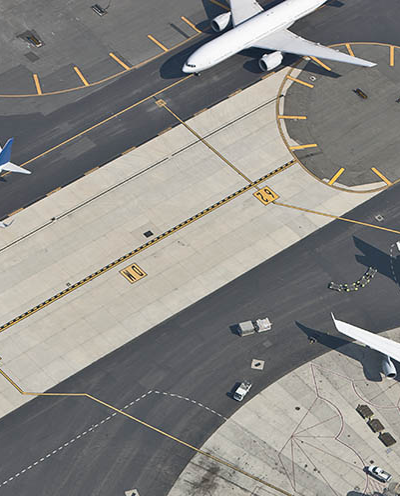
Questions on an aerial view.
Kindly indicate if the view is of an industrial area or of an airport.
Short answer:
airport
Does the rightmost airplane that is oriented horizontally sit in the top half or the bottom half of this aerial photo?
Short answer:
top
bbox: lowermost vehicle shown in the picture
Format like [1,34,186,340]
[368,466,392,484]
